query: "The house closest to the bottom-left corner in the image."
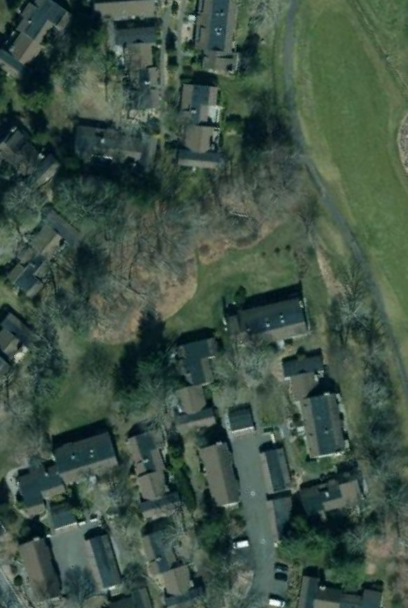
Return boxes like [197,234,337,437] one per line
[19,536,60,604]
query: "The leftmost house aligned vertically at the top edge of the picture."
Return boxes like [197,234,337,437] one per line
[114,26,159,112]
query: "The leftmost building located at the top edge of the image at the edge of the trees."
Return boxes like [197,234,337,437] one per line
[0,0,64,79]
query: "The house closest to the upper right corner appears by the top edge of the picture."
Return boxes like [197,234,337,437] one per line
[196,0,239,77]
